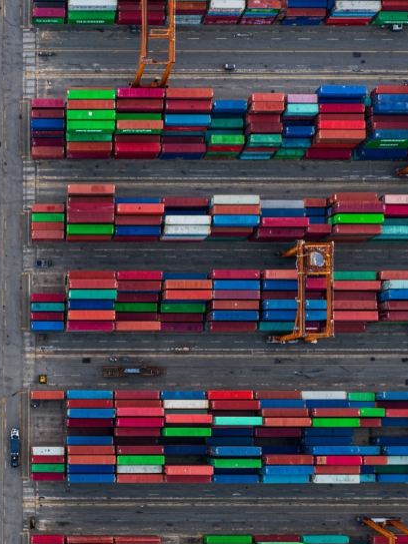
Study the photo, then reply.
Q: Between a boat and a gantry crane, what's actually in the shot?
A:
gantry crane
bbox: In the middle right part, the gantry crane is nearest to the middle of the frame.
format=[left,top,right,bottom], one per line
[271,240,337,340]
